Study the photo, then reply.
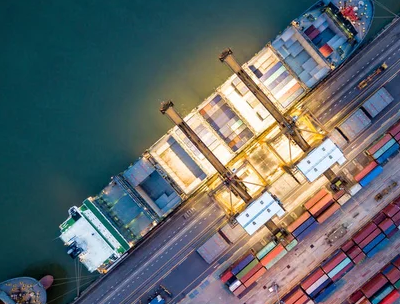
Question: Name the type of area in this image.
port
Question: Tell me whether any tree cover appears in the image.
No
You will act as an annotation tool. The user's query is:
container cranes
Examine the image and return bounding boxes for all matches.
[158,99,288,240]
[216,47,347,189]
